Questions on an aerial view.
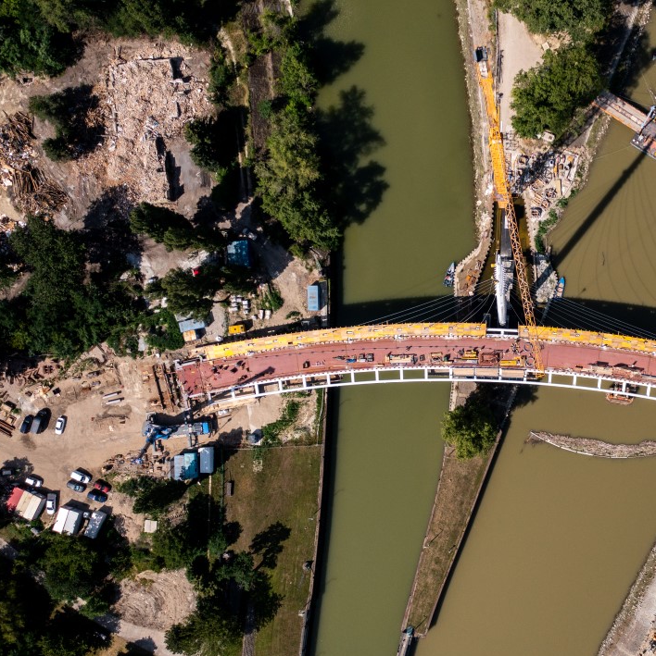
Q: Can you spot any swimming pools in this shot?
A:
No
